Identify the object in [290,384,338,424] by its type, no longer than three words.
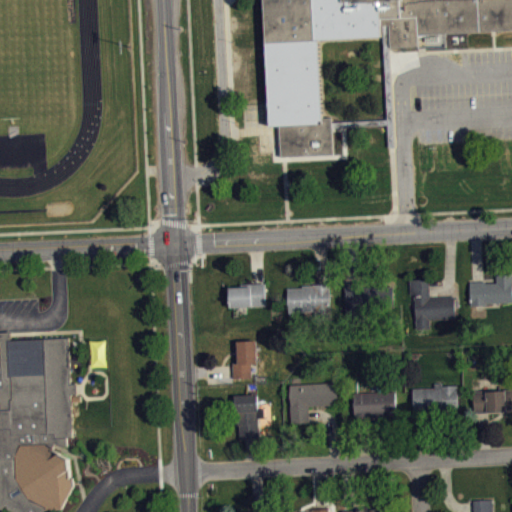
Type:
house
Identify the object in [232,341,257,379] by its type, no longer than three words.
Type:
house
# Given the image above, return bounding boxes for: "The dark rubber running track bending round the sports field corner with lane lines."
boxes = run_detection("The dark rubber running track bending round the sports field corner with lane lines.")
[0,0,102,212]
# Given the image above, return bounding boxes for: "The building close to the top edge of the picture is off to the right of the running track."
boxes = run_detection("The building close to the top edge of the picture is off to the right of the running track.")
[263,0,512,156]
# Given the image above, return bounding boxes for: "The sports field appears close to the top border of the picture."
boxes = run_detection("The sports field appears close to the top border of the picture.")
[0,0,82,172]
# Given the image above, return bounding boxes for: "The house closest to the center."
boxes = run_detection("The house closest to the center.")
[228,283,267,310]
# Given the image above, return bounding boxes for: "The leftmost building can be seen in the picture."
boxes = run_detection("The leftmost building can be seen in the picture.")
[0,333,78,512]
